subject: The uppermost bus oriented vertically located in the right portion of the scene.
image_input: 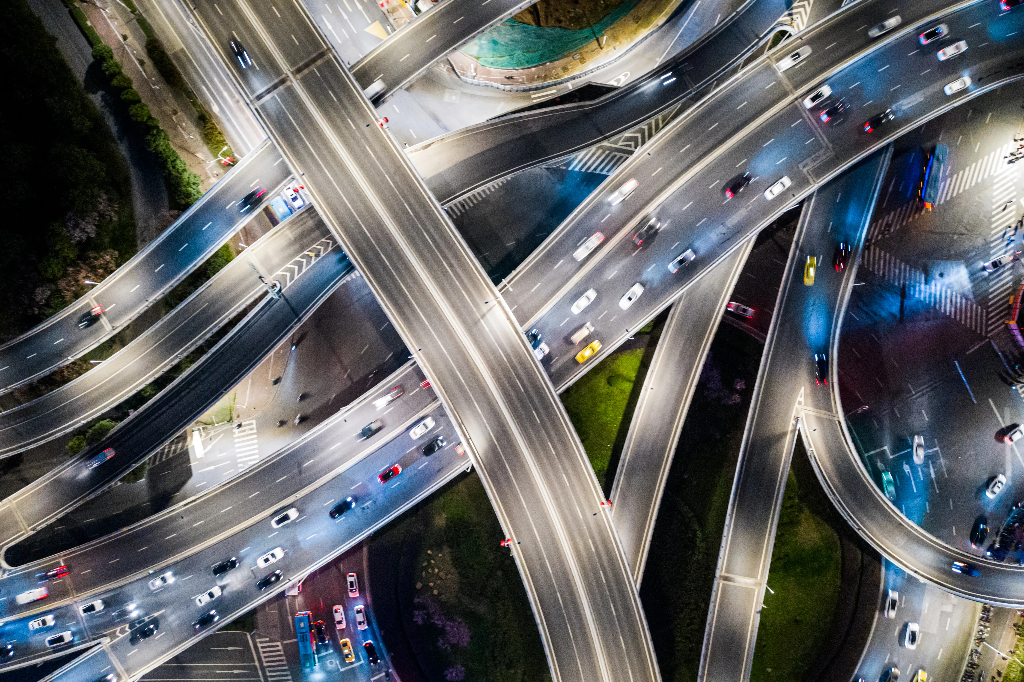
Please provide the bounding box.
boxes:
[916,142,949,214]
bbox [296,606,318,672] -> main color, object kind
blue bus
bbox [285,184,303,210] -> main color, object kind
white car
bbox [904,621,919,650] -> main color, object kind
white car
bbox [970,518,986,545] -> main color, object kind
black car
